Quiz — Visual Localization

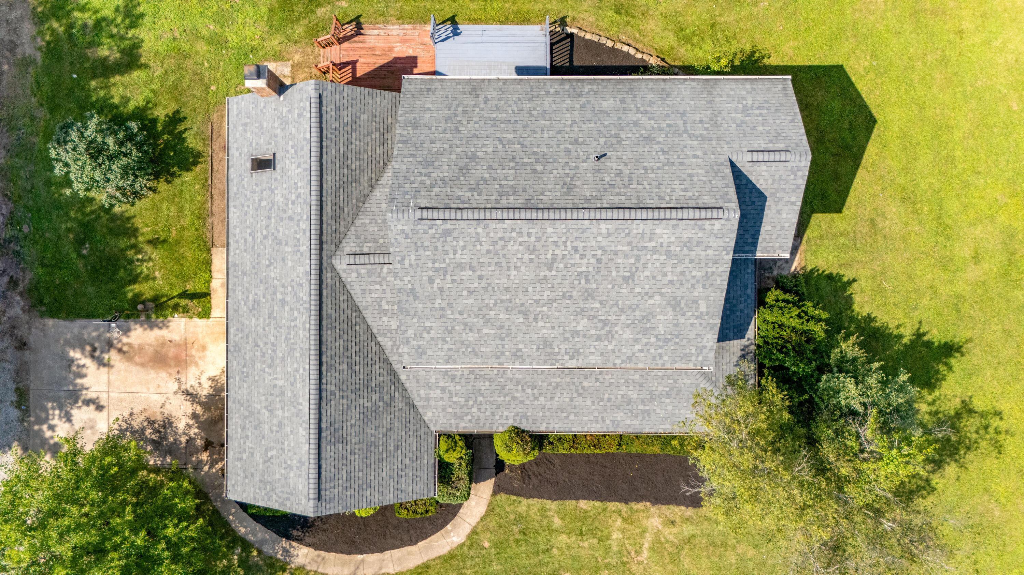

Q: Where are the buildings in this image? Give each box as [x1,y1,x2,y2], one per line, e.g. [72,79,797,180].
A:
[226,62,811,517]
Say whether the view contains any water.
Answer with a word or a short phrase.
No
